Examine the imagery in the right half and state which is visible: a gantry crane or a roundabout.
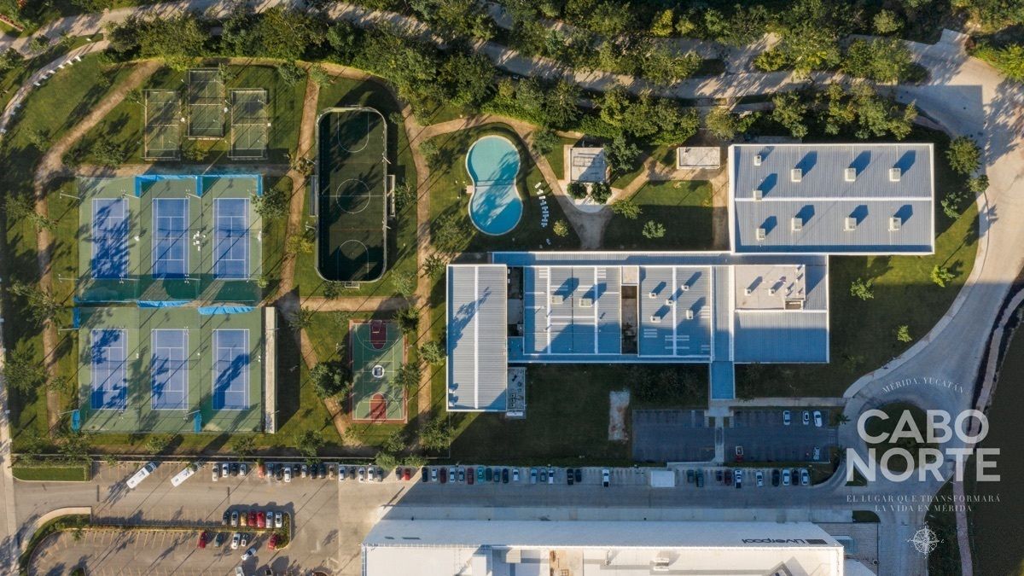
roundabout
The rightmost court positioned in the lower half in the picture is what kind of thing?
basketball court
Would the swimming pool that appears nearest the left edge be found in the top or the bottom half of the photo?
top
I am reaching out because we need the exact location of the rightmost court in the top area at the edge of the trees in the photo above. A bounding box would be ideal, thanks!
[314,104,386,290]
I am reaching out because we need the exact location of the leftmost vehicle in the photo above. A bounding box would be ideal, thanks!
[122,464,155,488]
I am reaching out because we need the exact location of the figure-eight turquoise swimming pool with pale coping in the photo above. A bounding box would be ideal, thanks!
[466,135,523,236]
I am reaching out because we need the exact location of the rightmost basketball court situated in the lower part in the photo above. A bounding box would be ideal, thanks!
[349,320,407,423]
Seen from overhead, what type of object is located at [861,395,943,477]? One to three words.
roundabout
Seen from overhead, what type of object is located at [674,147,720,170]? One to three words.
building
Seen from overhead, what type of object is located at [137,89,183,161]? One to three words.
sports court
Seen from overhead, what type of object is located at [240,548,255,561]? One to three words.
vehicle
